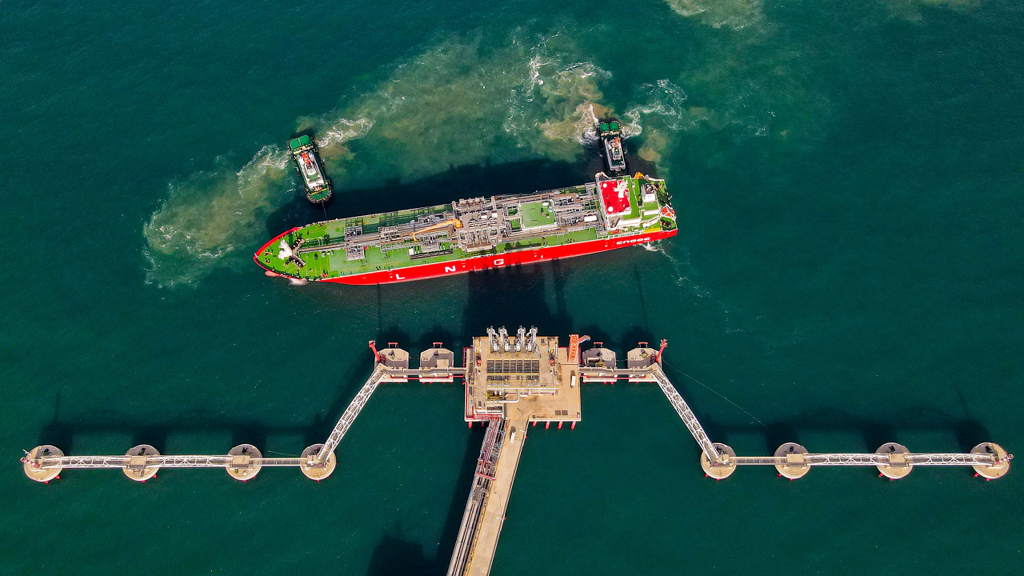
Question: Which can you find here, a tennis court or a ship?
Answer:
ship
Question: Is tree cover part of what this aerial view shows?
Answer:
No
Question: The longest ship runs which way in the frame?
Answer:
horizontally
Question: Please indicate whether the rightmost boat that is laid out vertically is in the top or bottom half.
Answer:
top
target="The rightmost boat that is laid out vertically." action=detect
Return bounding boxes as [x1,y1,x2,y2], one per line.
[597,121,631,180]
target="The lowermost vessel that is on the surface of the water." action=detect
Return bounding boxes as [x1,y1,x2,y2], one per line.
[252,170,677,288]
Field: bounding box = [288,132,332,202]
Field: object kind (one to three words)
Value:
boat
